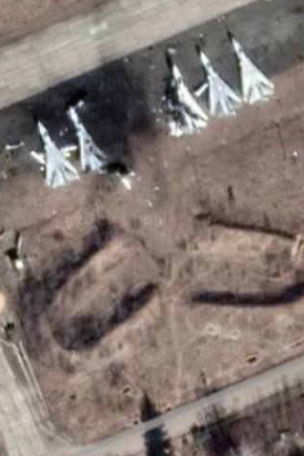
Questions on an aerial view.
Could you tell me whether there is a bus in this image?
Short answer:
No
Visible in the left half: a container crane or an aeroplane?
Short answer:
aeroplane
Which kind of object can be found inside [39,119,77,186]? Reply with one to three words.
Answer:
airplane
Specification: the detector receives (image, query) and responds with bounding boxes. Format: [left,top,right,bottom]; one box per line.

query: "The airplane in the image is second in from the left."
[71,107,110,171]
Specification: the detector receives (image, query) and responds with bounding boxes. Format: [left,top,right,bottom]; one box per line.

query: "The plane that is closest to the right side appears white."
[232,40,273,103]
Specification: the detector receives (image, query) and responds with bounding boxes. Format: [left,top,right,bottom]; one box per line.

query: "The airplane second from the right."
[201,53,241,116]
